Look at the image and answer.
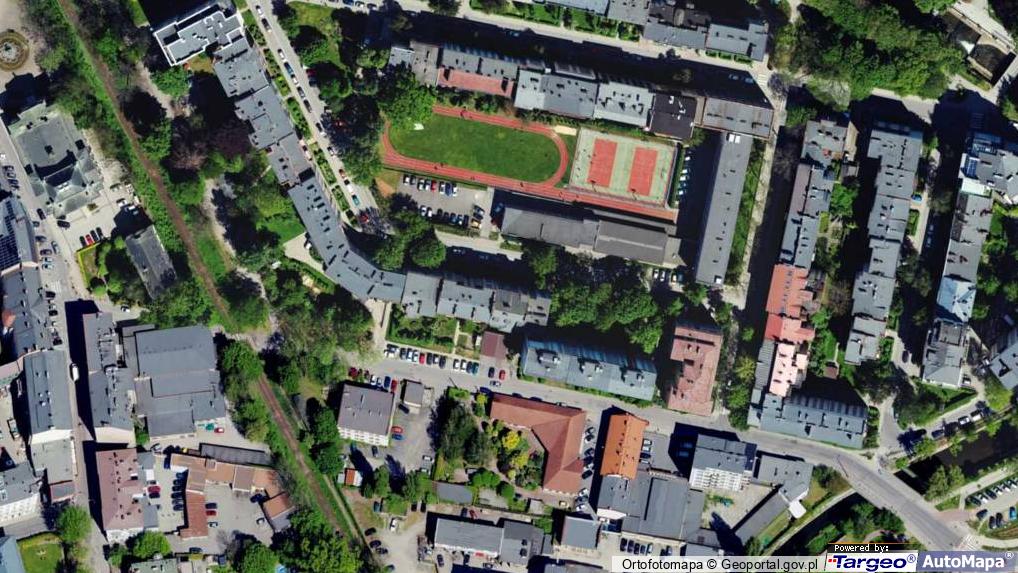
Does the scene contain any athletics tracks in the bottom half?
No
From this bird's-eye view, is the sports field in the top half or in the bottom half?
top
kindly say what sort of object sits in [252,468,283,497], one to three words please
shed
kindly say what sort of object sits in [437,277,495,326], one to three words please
house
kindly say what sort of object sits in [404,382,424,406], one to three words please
building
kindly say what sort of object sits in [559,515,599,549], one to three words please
shed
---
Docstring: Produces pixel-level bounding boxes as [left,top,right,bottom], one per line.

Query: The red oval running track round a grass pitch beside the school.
[383,104,678,222]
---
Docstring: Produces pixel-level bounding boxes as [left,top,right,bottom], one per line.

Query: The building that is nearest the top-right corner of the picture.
[942,5,1016,87]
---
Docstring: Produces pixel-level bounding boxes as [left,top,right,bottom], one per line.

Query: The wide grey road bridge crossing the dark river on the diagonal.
[848,449,1011,573]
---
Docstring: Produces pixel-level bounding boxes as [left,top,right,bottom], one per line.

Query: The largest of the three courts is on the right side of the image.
[571,129,677,203]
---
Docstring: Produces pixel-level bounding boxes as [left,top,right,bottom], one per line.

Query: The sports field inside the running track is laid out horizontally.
[392,113,562,182]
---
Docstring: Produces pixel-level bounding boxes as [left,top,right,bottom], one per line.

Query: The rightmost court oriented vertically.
[628,147,658,196]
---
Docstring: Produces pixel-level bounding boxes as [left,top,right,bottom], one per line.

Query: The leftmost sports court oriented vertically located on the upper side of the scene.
[588,139,617,187]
